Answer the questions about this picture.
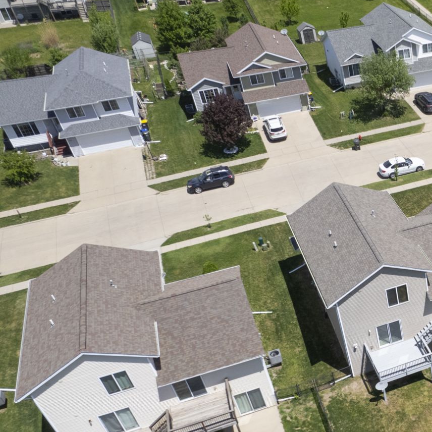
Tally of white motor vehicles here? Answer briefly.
2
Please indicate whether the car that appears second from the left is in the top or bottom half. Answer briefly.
top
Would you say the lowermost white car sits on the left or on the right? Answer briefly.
right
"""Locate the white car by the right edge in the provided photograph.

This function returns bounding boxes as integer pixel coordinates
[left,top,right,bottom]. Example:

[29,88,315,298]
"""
[379,156,426,179]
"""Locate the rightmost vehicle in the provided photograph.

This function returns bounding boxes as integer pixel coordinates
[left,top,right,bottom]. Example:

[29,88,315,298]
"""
[417,90,432,111]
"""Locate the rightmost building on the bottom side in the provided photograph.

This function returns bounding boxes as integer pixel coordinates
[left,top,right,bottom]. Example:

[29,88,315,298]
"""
[285,182,432,389]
